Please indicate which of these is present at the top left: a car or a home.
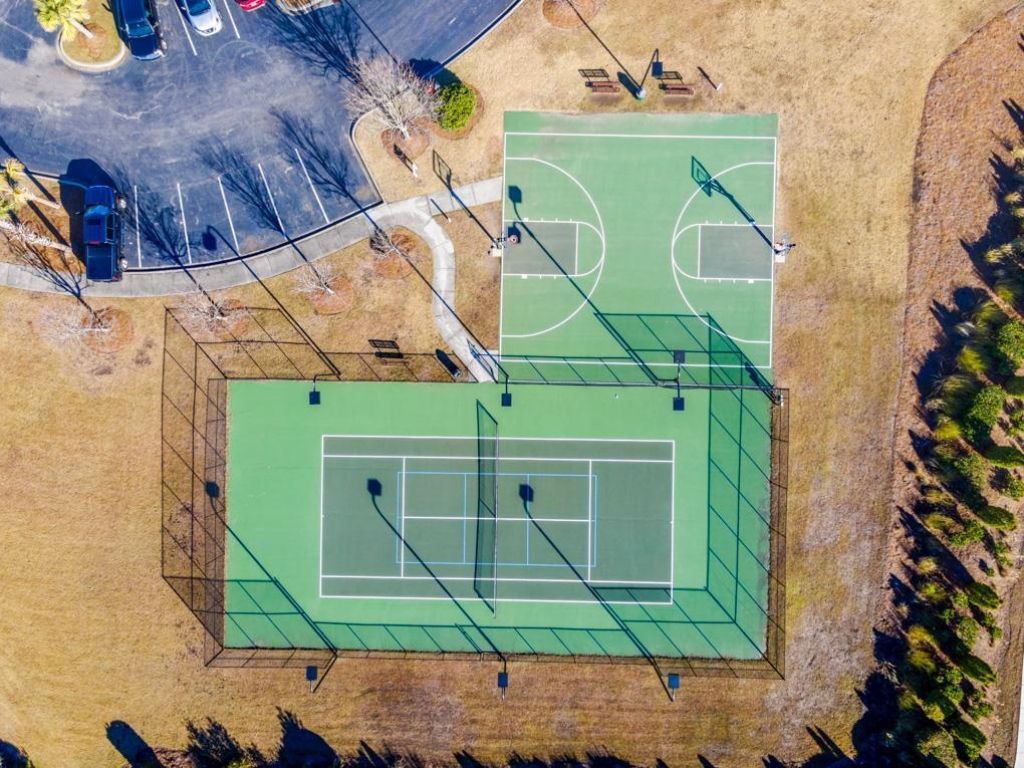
car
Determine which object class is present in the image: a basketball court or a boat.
basketball court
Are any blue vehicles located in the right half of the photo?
No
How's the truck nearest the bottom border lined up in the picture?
from top to bottom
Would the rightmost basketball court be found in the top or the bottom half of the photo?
top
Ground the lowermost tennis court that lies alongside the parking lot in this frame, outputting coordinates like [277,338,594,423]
[225,380,771,660]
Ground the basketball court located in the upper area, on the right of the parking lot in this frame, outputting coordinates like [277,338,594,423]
[499,110,778,383]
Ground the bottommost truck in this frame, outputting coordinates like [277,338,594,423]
[81,186,128,282]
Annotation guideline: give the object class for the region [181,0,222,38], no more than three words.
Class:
car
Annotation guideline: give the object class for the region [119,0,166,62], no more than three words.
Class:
car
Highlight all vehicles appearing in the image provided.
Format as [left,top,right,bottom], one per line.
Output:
[81,186,128,282]
[181,0,222,38]
[119,0,166,62]
[235,0,266,14]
